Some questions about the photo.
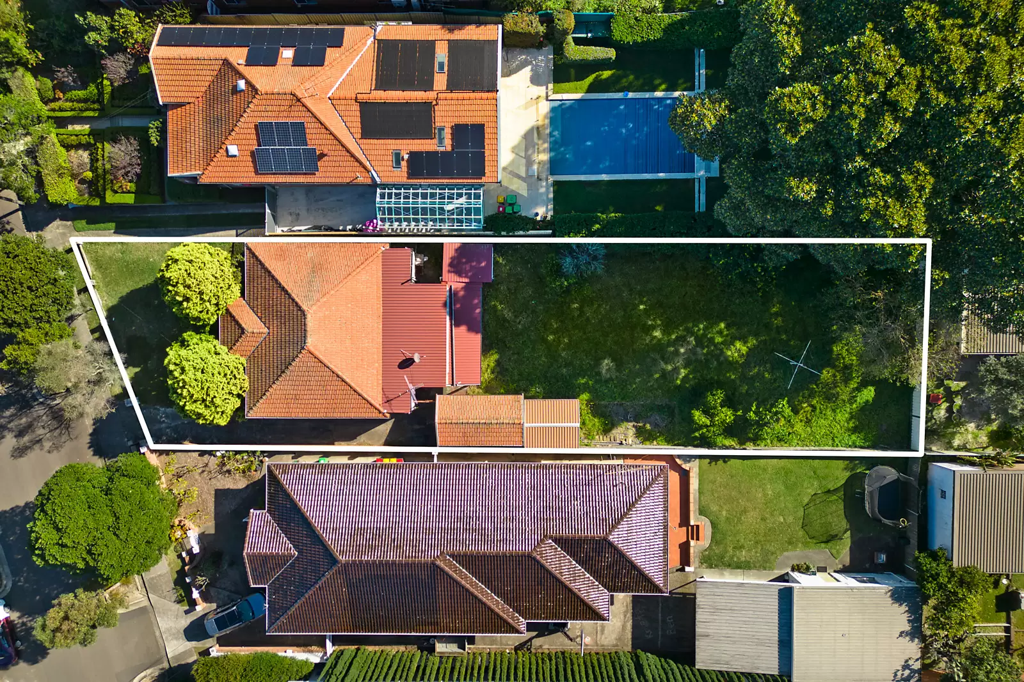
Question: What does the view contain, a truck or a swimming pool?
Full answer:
This aerial view contains a swimming pool.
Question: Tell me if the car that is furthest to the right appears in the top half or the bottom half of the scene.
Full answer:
The bottom half of the photo is where the car that is furthest to the right is.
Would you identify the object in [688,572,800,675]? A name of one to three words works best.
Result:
building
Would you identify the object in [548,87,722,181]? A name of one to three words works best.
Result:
swimming pool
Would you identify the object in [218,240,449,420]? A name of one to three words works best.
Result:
house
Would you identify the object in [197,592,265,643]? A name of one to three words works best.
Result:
car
